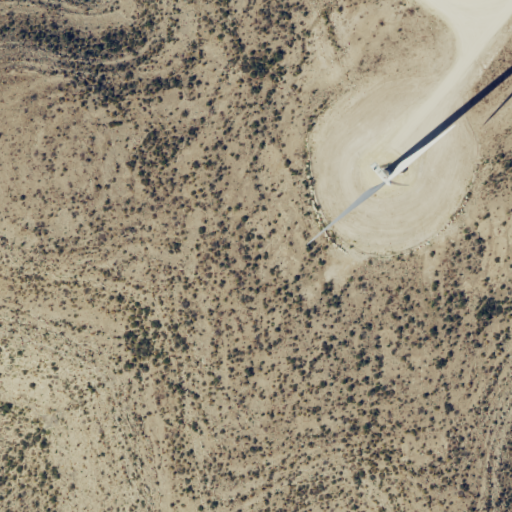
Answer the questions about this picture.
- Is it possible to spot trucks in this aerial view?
No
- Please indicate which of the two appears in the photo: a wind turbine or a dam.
wind turbine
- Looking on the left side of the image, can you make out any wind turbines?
No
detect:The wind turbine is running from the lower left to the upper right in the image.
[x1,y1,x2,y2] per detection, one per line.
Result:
[308,126,456,245]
